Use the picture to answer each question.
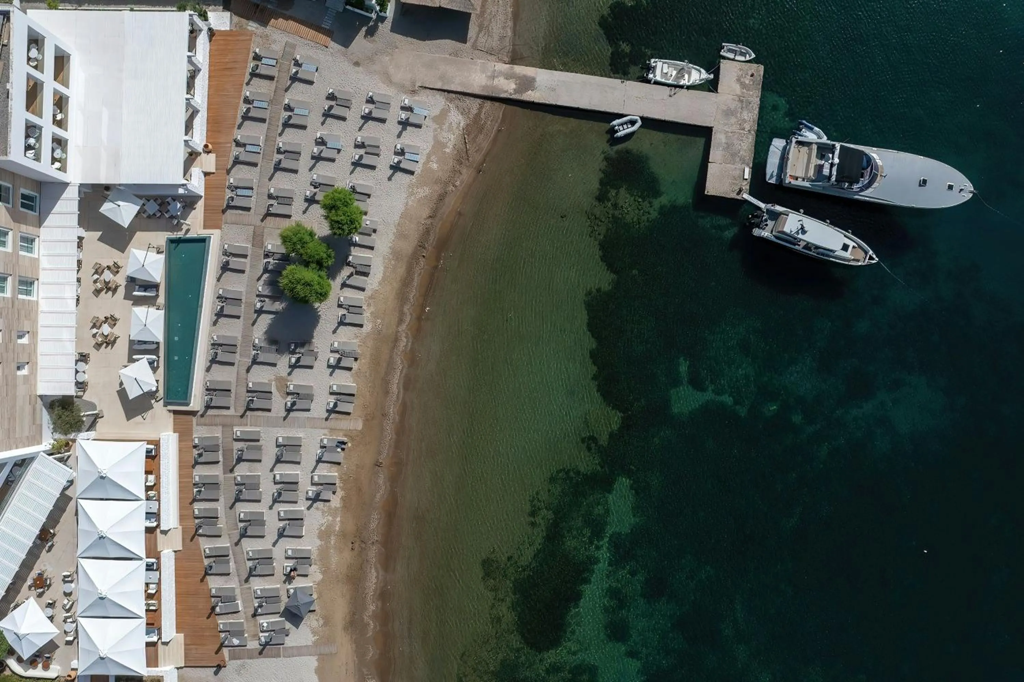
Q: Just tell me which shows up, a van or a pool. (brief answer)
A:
pool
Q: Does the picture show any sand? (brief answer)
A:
Yes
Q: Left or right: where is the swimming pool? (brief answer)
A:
left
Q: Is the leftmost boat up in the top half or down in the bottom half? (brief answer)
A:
top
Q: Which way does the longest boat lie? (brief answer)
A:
horizontally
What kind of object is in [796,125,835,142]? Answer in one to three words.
boat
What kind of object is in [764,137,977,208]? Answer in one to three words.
boat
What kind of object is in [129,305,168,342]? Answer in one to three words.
umbrella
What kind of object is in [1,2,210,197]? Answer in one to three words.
building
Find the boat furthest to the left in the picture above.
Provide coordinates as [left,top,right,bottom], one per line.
[611,117,642,138]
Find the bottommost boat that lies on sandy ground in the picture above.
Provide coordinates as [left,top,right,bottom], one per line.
[744,205,879,262]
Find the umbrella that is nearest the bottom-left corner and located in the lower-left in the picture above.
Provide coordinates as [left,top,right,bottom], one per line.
[0,598,61,660]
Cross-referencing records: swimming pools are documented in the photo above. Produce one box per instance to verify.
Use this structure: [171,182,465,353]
[163,233,224,411]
